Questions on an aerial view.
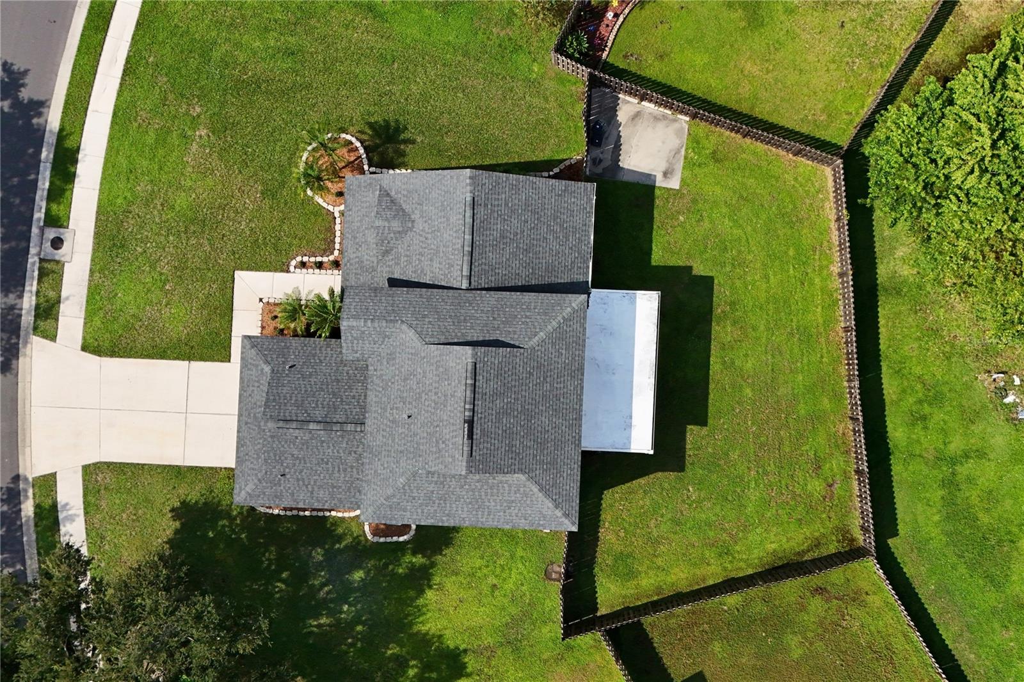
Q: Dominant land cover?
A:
grass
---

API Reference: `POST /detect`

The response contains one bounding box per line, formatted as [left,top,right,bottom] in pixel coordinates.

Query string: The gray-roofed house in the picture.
[233,168,597,532]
